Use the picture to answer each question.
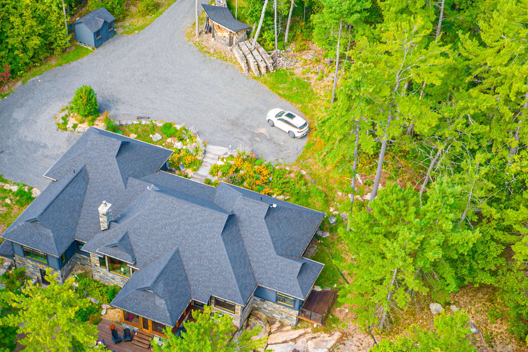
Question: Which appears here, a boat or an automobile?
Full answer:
The image shows an automobile.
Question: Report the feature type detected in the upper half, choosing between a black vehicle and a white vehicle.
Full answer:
What appears in the upper half is a white vehicle.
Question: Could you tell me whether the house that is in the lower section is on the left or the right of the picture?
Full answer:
You can find the house that is in the lower section on the left side of the picture.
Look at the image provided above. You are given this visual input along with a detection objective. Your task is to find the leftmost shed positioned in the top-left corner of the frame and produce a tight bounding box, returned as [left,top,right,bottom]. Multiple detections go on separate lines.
[71,4,115,47]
